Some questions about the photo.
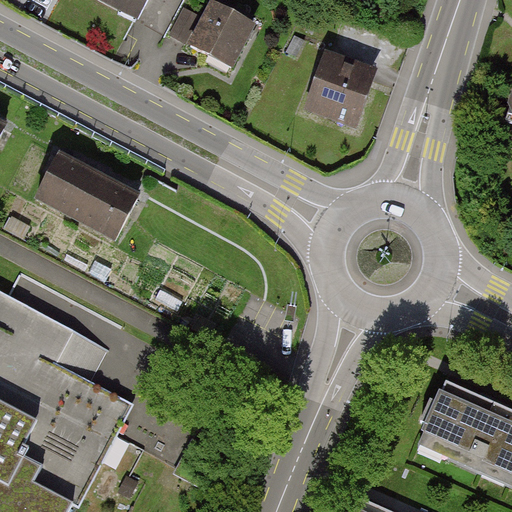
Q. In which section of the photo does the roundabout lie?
right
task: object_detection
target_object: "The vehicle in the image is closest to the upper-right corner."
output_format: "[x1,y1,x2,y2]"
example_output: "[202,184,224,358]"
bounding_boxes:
[382,203,404,217]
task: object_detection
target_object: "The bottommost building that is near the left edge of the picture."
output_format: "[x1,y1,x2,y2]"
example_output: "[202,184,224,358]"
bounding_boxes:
[0,290,133,512]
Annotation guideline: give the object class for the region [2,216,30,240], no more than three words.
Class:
shed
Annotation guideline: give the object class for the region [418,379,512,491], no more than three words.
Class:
building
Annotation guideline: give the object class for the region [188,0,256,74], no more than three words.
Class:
house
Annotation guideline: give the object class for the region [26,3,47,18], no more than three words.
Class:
car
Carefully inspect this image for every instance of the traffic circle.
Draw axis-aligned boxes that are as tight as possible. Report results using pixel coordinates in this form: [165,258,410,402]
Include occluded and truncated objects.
[310,183,460,331]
